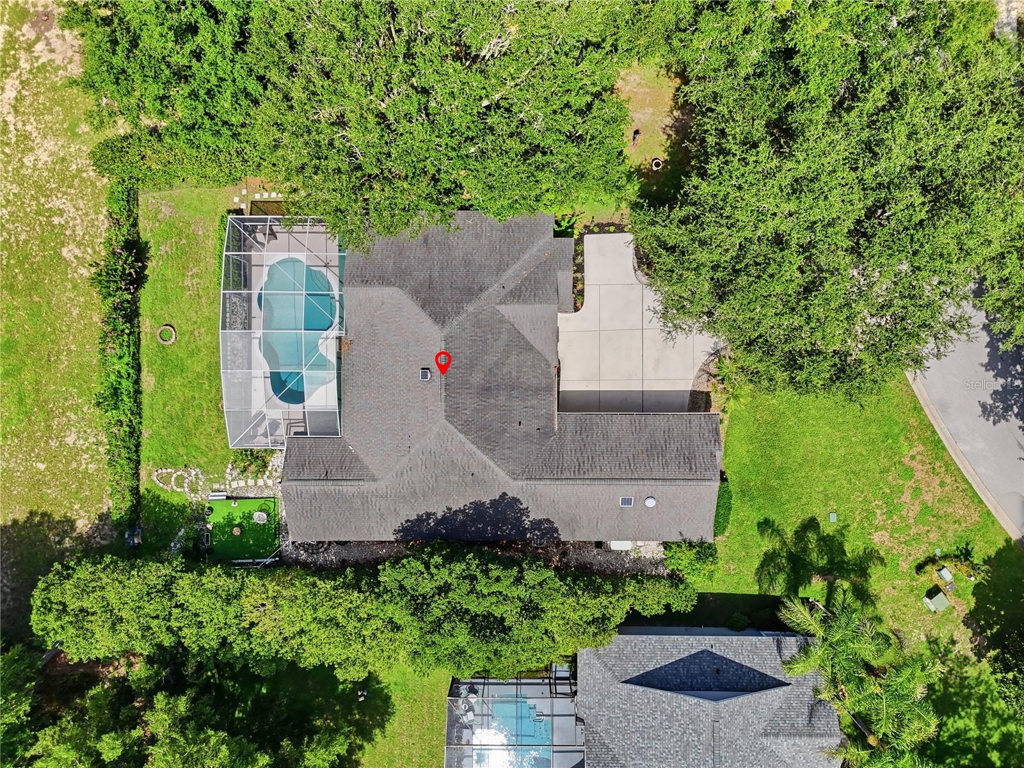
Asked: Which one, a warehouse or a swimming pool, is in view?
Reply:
swimming pool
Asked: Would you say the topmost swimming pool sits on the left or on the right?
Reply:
left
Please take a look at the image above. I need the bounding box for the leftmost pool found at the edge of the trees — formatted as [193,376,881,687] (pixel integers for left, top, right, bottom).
[252,252,341,409]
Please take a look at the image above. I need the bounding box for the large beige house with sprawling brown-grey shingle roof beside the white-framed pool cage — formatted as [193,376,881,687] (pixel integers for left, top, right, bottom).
[282,211,724,541]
